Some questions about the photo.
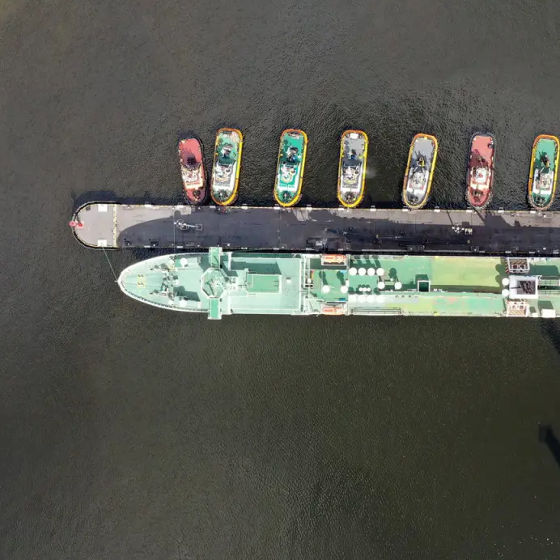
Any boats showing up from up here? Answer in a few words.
Yes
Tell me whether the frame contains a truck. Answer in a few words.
No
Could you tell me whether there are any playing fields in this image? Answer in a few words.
No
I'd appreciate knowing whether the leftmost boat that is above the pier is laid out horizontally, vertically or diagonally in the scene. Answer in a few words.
vertically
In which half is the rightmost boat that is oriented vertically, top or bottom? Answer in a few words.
top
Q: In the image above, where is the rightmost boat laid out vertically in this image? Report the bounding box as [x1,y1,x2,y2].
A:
[525,135,558,211]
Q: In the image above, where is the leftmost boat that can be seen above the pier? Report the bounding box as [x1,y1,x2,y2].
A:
[178,137,211,206]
